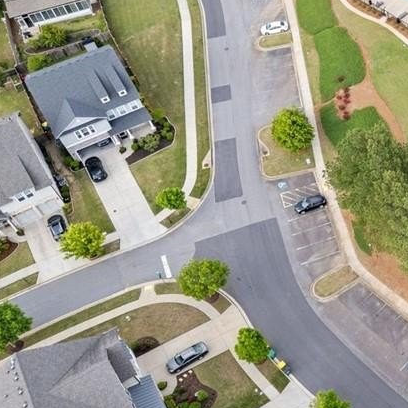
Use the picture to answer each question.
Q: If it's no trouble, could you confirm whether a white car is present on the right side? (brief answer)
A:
Yes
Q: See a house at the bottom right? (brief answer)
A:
No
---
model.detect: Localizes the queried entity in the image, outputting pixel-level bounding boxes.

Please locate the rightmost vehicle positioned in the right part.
[293,191,327,214]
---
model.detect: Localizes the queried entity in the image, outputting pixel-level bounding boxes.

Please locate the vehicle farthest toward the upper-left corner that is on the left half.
[80,154,109,183]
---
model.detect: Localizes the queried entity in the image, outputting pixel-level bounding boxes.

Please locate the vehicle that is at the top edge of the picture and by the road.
[260,20,289,36]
